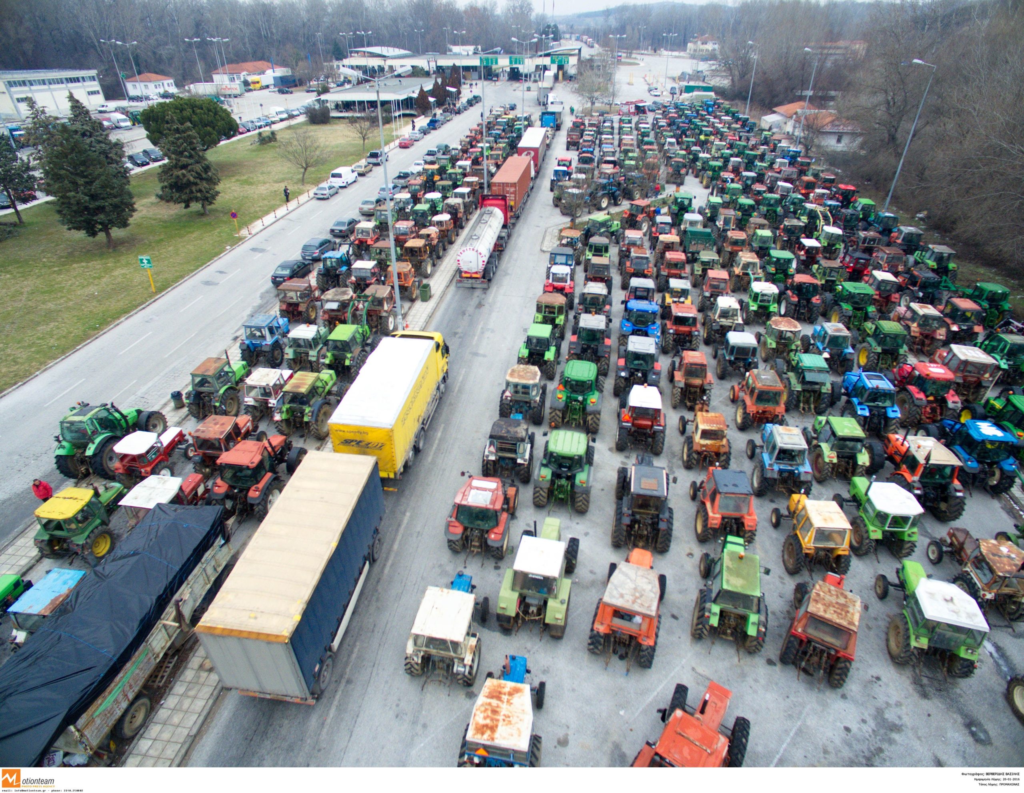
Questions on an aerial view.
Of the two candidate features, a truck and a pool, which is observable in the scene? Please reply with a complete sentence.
Looking from above, you can make out a truck.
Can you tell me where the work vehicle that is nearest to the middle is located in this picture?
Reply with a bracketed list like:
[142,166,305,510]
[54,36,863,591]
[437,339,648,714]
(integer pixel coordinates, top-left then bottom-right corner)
[499,371,544,428]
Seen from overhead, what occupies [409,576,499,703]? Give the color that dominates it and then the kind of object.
white work vehicle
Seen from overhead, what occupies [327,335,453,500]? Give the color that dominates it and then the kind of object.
white truck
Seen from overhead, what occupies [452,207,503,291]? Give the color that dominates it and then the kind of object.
white trailer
